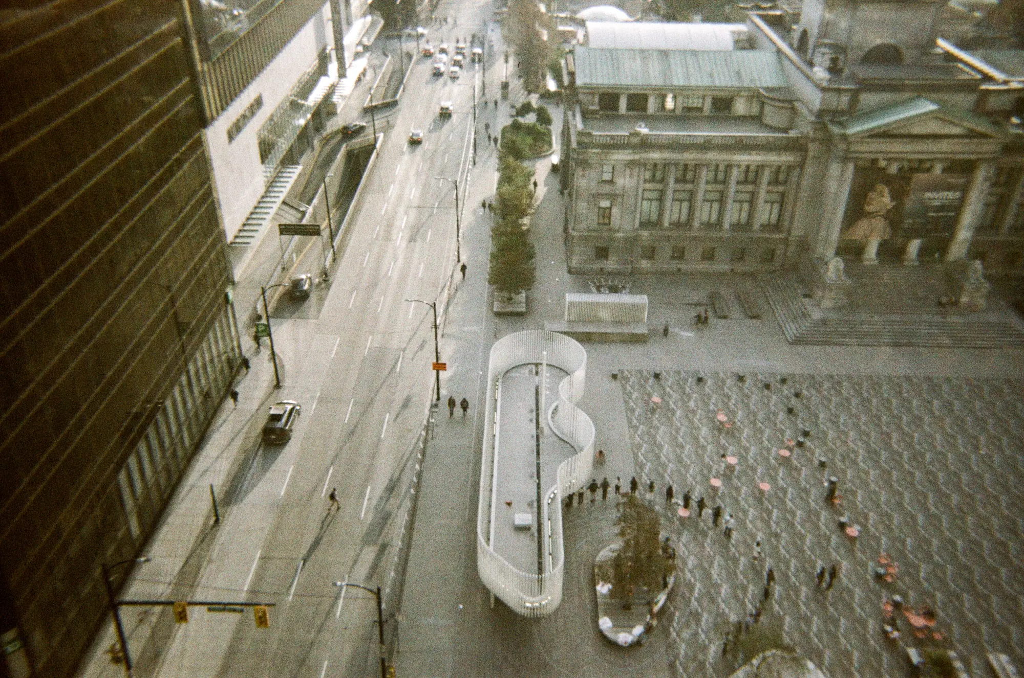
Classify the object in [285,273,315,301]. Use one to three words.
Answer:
car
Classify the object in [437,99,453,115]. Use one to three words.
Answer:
car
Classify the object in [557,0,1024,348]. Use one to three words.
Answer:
building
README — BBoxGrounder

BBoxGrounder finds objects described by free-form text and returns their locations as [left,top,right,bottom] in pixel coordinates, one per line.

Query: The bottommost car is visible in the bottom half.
[264,397,304,441]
